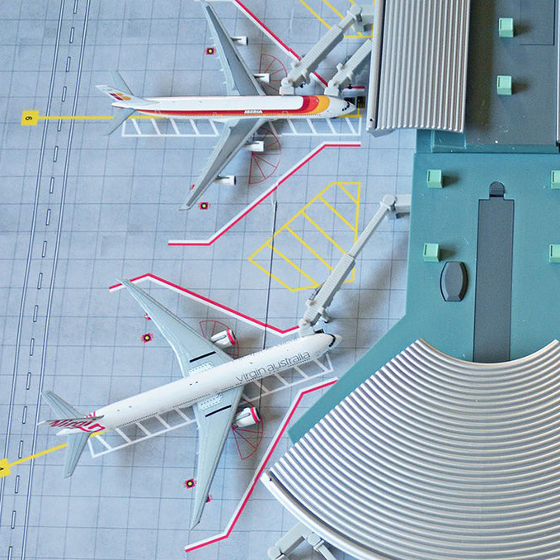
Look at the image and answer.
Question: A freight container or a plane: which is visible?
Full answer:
Of the two, only a plane appears.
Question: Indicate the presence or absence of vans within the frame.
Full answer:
No, there appears to be no van in this shot.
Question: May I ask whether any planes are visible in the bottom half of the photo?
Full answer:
Yes, a plane can be seen in the bottom half of the photo.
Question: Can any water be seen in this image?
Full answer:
No, the picture contains no water.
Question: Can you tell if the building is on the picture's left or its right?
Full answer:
It is on the right.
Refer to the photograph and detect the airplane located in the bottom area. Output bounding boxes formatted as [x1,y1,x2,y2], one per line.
[40,279,341,526]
